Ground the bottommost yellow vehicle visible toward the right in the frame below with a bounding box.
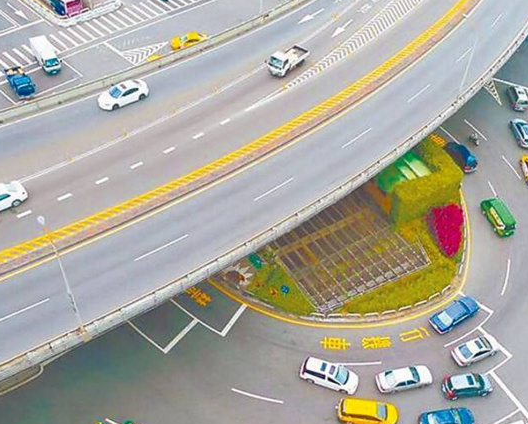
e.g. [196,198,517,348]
[338,398,396,424]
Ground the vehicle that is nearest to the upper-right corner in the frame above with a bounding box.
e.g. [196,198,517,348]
[506,87,528,111]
